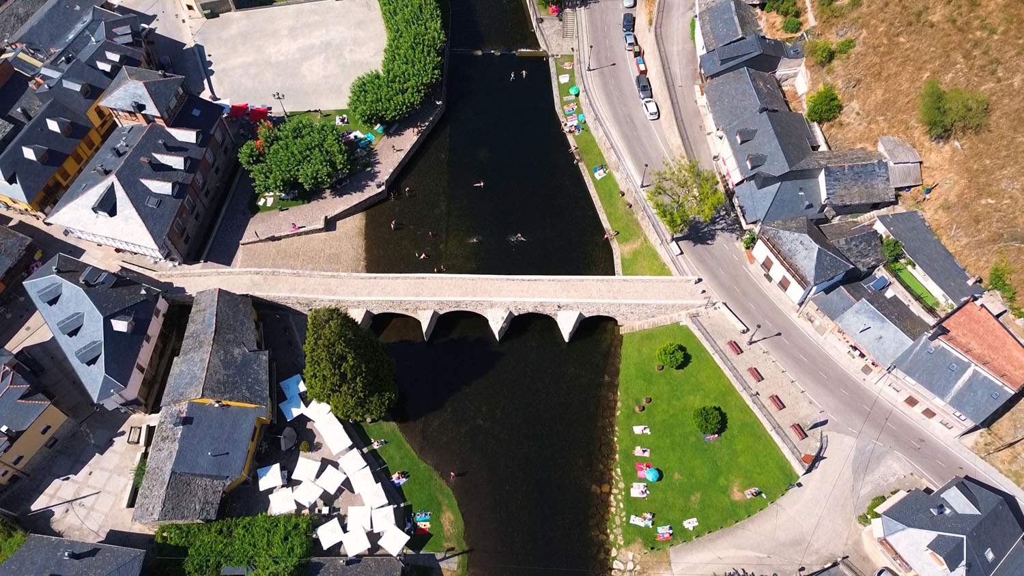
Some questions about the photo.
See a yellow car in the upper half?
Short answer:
No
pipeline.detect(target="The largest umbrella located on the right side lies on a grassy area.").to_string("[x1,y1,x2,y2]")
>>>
[648,468,663,483]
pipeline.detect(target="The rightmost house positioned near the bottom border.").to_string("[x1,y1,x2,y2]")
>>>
[866,476,1024,576]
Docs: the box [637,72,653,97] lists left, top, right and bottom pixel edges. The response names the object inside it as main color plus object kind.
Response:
gray car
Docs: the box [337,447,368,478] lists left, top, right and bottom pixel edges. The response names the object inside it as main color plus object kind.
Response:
white umbrella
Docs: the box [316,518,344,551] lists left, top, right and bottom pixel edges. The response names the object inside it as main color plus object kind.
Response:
white umbrella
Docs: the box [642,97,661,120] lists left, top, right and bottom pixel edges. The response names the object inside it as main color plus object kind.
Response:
white car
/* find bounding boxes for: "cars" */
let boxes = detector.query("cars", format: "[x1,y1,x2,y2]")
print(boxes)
[624,0,635,8]
[637,72,653,97]
[623,13,636,31]
[624,28,639,50]
[642,97,661,120]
